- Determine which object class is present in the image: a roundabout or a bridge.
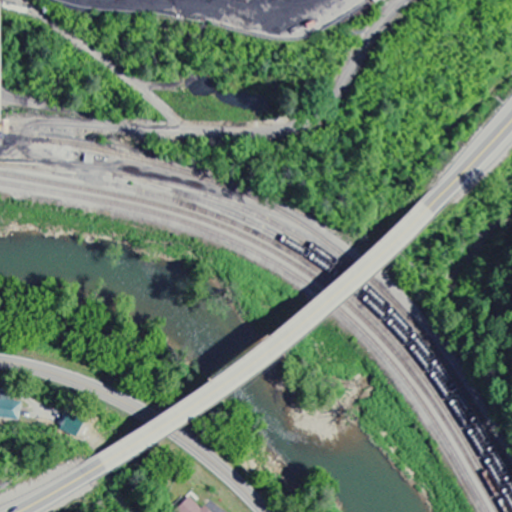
bridge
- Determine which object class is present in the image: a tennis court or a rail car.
rail car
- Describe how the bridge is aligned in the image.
at an angle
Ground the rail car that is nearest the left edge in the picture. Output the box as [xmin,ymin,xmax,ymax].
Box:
[278,234,308,254]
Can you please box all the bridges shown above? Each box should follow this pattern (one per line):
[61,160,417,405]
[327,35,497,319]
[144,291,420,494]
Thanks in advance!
[88,189,448,480]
